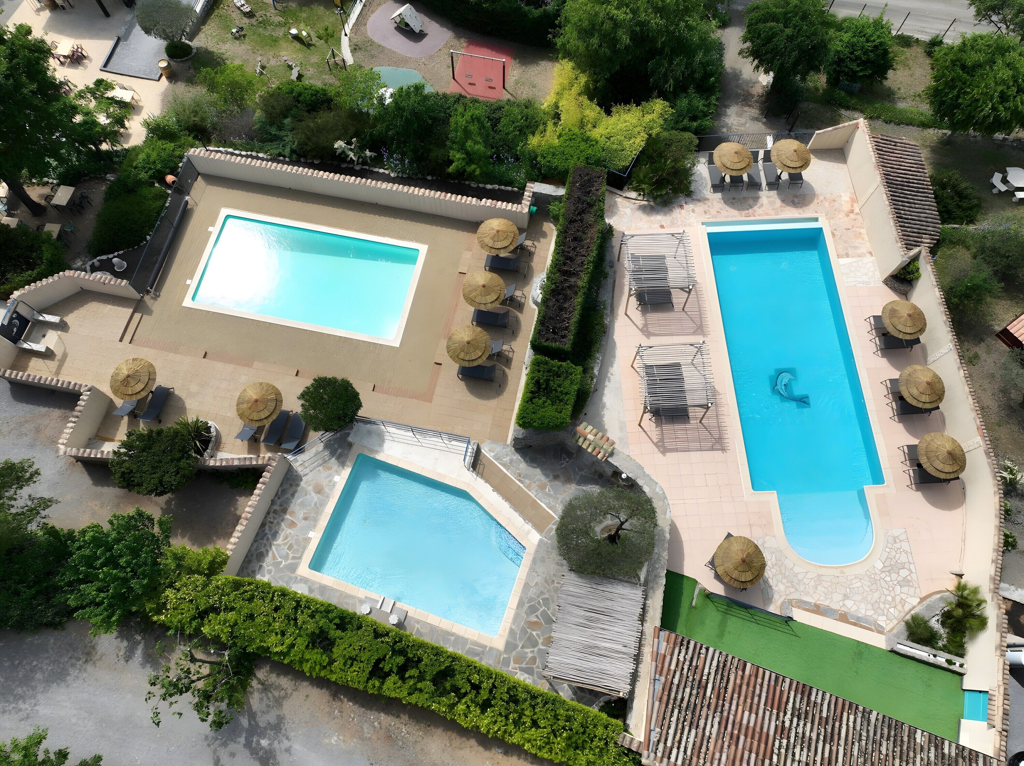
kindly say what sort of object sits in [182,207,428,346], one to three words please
swimming pool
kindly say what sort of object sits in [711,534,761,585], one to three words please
umbrella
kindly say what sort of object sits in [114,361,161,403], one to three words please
umbrella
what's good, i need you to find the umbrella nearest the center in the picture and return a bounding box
[446,329,493,373]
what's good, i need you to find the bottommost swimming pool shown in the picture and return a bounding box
[295,443,540,651]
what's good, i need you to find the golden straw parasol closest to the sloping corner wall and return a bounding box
[770,144,810,191]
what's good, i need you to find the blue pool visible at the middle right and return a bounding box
[699,213,896,574]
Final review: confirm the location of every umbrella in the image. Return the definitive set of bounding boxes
[475,220,518,262]
[463,274,508,313]
[711,534,761,585]
[905,437,964,482]
[446,329,493,373]
[872,302,923,347]
[114,361,161,403]
[888,369,940,411]
[235,384,283,429]
[770,144,810,191]
[712,145,751,193]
